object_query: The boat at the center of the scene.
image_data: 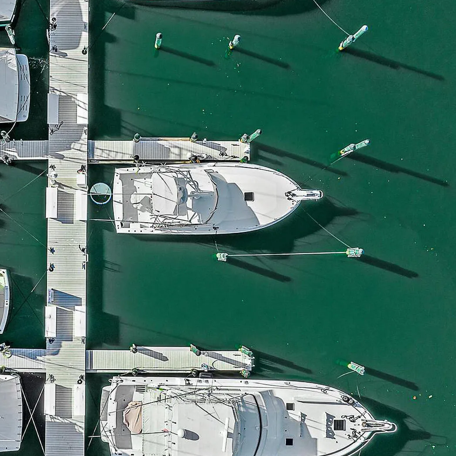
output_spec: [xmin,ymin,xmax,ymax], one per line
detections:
[95,162,323,235]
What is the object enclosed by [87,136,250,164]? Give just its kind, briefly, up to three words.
pier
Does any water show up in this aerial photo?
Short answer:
Yes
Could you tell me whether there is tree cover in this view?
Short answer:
No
